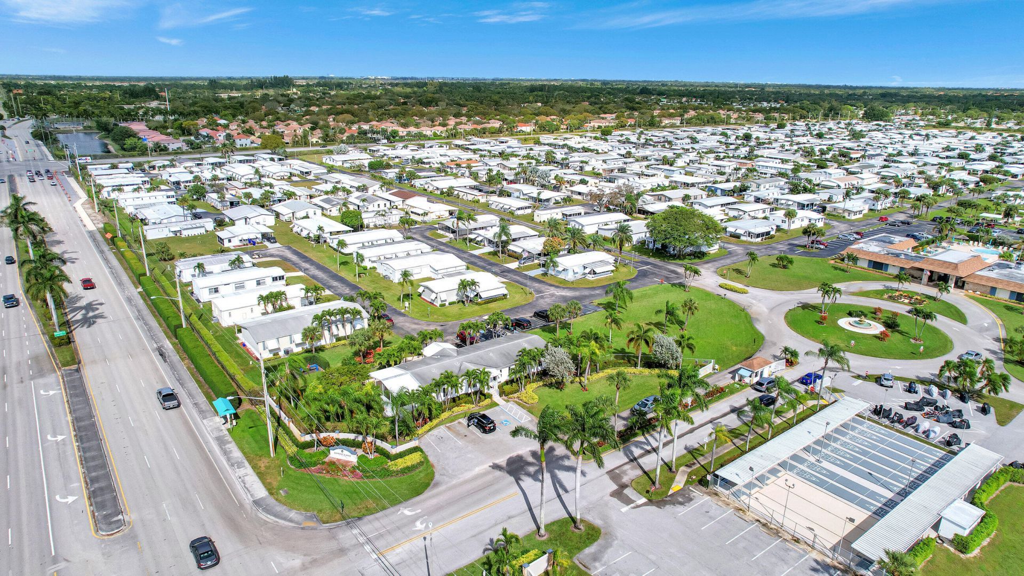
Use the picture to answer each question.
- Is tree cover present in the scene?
Yes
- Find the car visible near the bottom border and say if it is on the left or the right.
left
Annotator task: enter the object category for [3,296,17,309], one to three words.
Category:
vehicle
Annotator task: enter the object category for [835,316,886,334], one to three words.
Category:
fountain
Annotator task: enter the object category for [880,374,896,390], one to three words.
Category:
car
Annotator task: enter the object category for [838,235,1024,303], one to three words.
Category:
building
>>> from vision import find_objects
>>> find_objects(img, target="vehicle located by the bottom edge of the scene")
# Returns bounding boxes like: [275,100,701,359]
[190,535,218,571]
